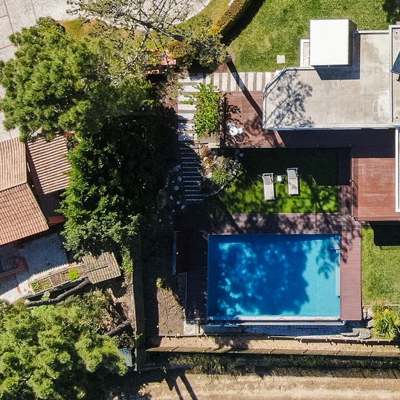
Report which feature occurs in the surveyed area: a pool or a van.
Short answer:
pool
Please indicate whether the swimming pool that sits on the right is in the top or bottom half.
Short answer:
bottom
